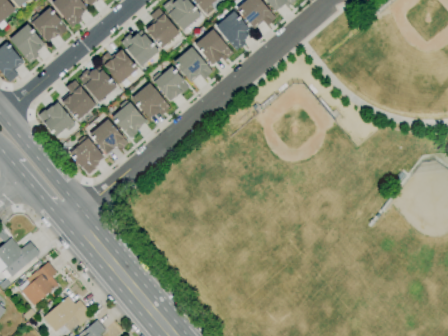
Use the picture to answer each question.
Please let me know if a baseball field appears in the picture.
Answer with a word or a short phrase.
Yes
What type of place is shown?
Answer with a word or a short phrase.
residential area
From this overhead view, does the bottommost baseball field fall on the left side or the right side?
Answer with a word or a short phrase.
right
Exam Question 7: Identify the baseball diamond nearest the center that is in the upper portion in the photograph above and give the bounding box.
[258,82,336,162]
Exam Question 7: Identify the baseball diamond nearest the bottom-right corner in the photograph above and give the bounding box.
[396,159,448,236]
